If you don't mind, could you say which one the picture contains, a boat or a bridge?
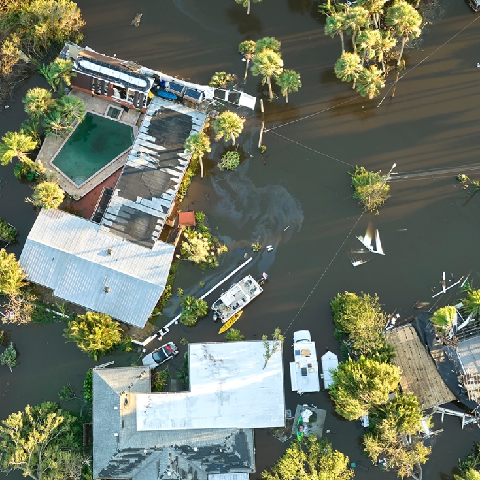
boat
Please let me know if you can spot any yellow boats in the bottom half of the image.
Yes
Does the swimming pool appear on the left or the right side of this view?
left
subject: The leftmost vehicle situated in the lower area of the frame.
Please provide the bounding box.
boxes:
[140,341,182,369]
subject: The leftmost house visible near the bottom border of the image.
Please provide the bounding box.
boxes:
[93,340,286,480]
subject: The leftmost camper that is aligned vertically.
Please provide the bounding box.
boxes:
[288,333,319,396]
